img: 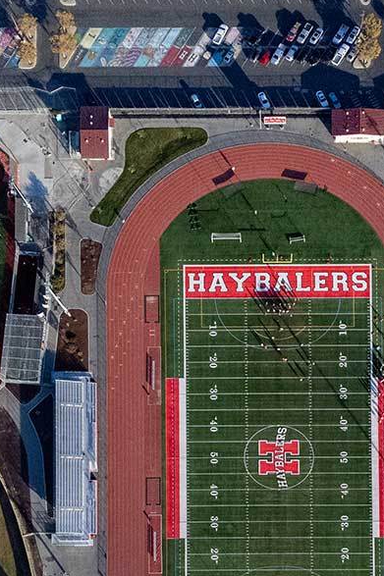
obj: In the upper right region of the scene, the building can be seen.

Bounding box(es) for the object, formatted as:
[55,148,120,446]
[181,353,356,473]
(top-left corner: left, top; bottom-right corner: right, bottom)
[332,106,384,141]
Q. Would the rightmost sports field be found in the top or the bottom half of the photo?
bottom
